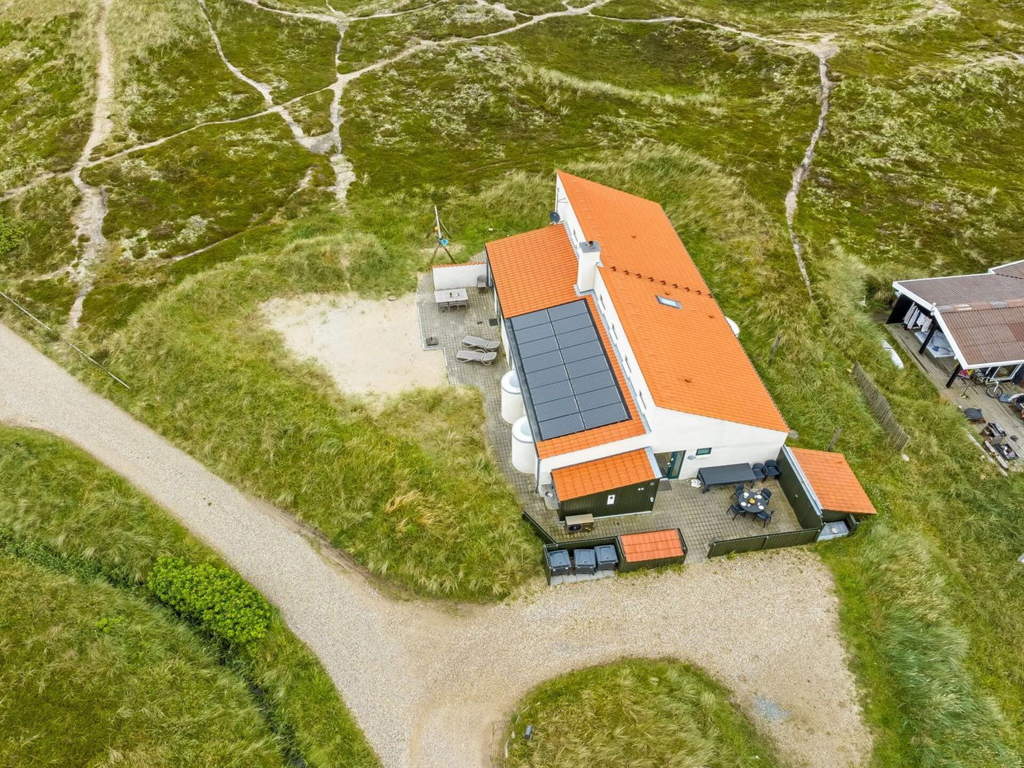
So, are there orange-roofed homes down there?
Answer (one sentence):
Yes, an orange-roofed home can be made out from above.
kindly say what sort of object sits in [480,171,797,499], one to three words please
house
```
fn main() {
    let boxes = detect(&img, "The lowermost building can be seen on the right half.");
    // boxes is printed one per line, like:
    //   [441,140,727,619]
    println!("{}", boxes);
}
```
[614,526,693,573]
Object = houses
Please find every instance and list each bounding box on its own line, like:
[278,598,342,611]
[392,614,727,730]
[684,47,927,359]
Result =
[480,171,797,499]
[885,255,1024,389]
